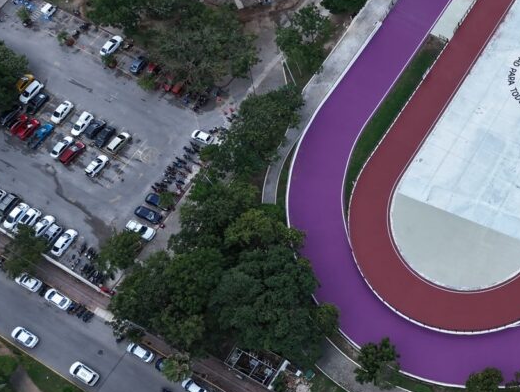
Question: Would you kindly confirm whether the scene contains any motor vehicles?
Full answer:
Yes, the photo shows a motor vehicle.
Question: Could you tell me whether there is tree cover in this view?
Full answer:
Yes, some tree cover is visible.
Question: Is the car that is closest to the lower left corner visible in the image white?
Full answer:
Yes, the car that is closest to the lower left corner is white.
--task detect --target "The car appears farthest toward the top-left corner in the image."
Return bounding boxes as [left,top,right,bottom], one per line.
[35,0,60,19]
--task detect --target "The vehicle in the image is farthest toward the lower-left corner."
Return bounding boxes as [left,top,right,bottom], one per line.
[9,325,40,349]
